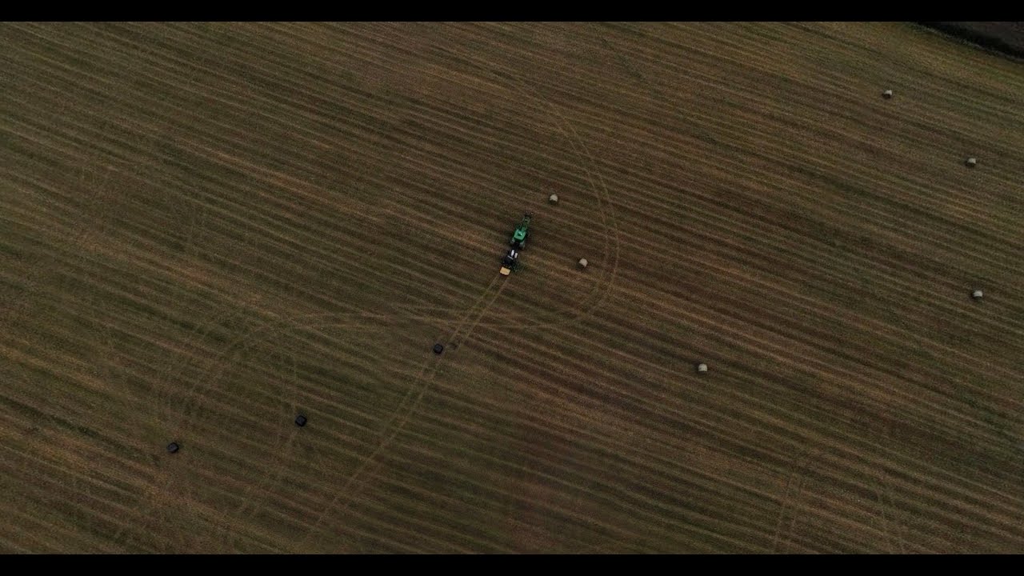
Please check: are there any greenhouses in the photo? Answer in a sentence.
No, there is no greenhouse in the image.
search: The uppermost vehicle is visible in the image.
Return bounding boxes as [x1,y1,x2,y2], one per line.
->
[510,214,533,250]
